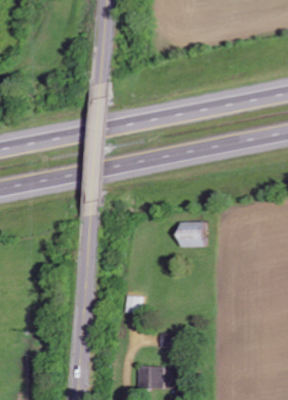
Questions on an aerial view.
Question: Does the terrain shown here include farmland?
Yes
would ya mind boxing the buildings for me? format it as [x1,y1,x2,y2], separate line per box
[138,365,170,391]
[126,294,147,315]
[160,332,176,349]
[176,221,208,248]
